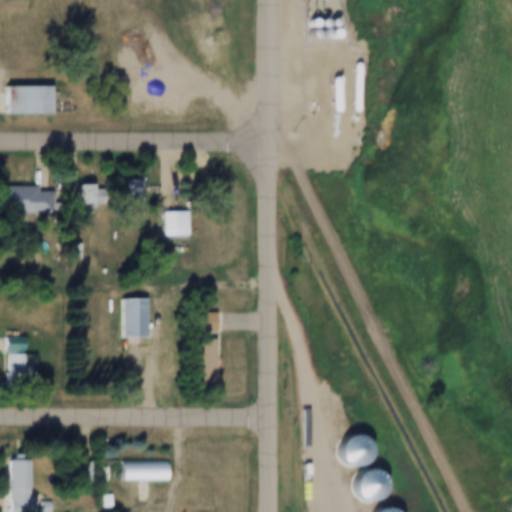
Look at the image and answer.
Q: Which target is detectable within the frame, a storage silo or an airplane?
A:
storage silo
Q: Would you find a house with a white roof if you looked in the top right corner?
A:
No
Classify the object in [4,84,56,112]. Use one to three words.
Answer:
shed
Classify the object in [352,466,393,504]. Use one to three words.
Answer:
silo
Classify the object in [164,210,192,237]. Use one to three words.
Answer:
house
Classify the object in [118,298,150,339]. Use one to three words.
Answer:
building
